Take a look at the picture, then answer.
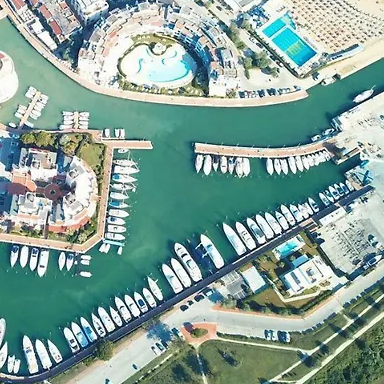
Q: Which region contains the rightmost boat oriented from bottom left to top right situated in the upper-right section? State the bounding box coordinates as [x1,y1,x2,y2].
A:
[351,79,377,103]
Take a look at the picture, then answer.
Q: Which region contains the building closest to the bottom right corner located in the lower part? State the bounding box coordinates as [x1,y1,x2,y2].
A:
[280,251,341,290]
